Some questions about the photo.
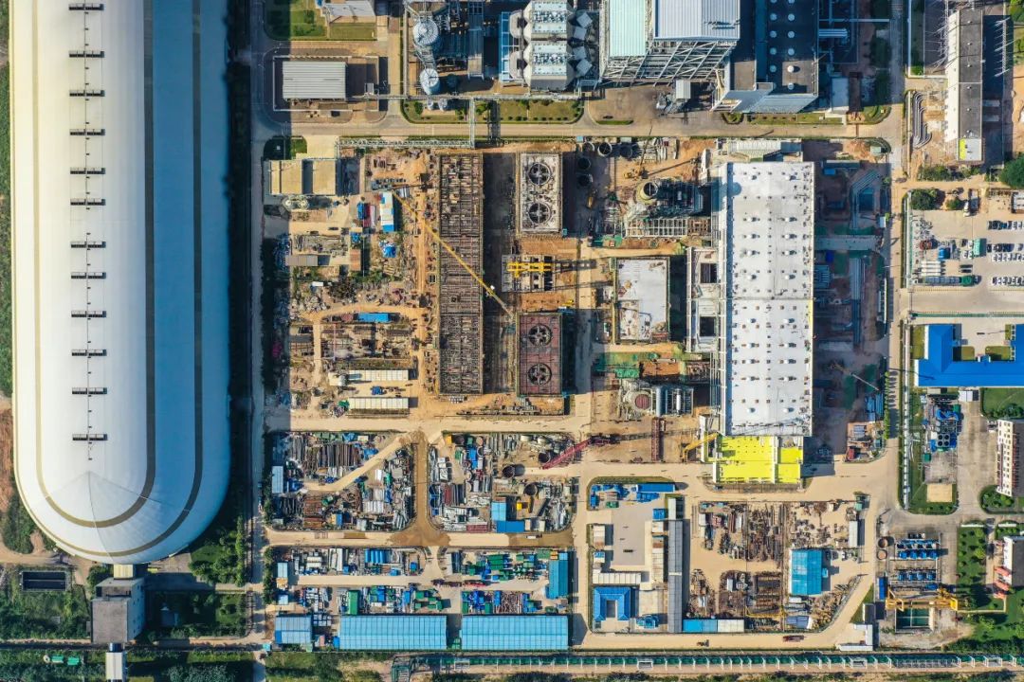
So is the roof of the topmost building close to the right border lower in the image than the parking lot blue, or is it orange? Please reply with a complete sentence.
From above, the roof of the topmost building close to the right border lower in the image than the parking lot appears blue.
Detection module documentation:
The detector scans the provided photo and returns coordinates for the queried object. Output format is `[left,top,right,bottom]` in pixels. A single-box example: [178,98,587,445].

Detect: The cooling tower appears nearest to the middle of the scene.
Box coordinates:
[515,309,563,398]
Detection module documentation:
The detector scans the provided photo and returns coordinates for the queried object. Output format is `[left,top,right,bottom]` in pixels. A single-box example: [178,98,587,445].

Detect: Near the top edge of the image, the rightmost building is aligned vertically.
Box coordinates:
[947,9,983,144]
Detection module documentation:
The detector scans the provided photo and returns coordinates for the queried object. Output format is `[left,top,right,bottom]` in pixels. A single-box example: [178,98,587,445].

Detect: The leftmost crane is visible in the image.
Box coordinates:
[371,176,514,317]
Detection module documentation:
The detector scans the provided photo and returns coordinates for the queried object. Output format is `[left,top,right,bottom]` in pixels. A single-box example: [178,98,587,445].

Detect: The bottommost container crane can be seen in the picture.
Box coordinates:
[880,593,958,612]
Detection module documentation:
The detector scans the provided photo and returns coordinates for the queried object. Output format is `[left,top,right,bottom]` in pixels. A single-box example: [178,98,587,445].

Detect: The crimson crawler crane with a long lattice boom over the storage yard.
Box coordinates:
[540,431,621,469]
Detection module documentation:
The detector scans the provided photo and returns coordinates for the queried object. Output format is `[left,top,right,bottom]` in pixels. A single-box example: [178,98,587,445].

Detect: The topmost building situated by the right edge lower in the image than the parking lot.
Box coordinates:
[914,324,1024,386]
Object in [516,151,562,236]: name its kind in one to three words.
cooling tower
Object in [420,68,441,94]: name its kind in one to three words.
silo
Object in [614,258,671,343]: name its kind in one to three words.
building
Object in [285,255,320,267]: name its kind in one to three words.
shed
